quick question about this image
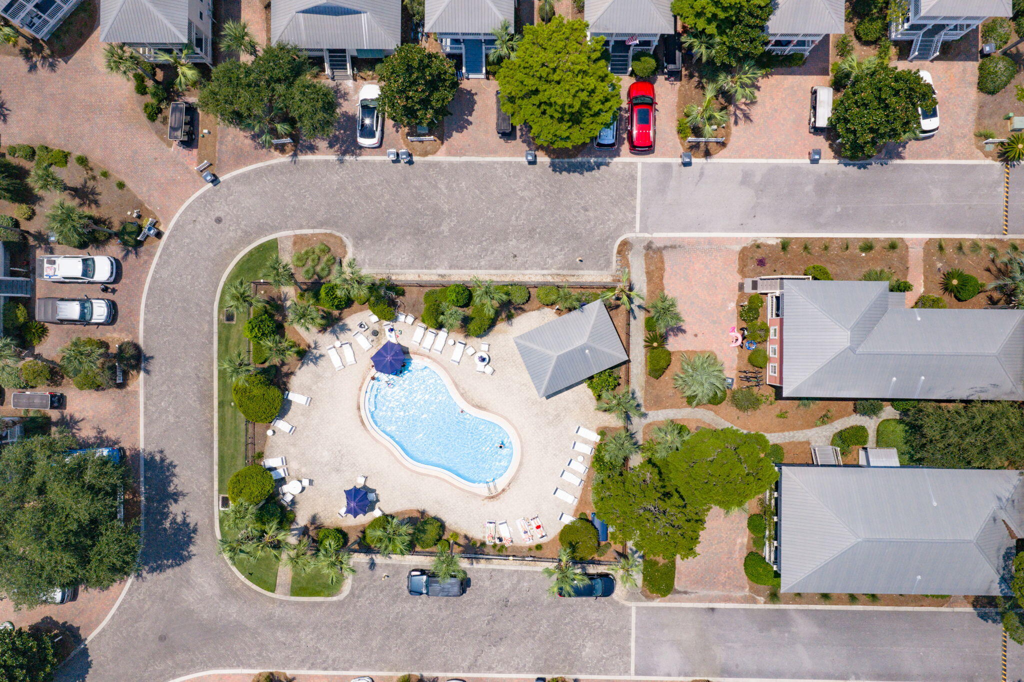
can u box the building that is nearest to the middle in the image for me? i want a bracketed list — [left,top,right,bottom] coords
[512,299,629,399]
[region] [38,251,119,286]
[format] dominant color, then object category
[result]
white truck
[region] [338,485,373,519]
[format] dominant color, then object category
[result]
blue umbrella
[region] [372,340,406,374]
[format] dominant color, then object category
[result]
blue umbrella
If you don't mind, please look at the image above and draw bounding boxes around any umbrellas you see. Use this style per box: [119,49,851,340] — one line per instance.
[372,340,406,374]
[338,485,373,519]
